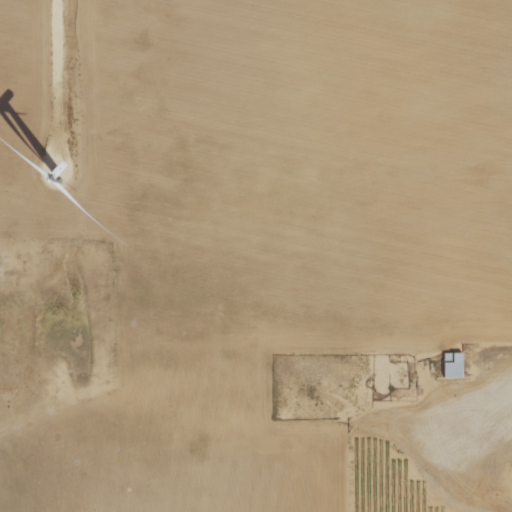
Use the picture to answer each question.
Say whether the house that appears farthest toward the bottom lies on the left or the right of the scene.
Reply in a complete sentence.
The house that appears farthest toward the bottom sits on the right side.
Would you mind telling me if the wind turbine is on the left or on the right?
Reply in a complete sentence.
You can find the wind turbine on the left side of the picture.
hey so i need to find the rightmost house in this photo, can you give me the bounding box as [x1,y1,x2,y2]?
[445,352,465,378]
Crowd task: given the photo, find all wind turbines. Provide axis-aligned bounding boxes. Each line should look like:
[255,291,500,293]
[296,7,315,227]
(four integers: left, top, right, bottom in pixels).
[0,134,123,245]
